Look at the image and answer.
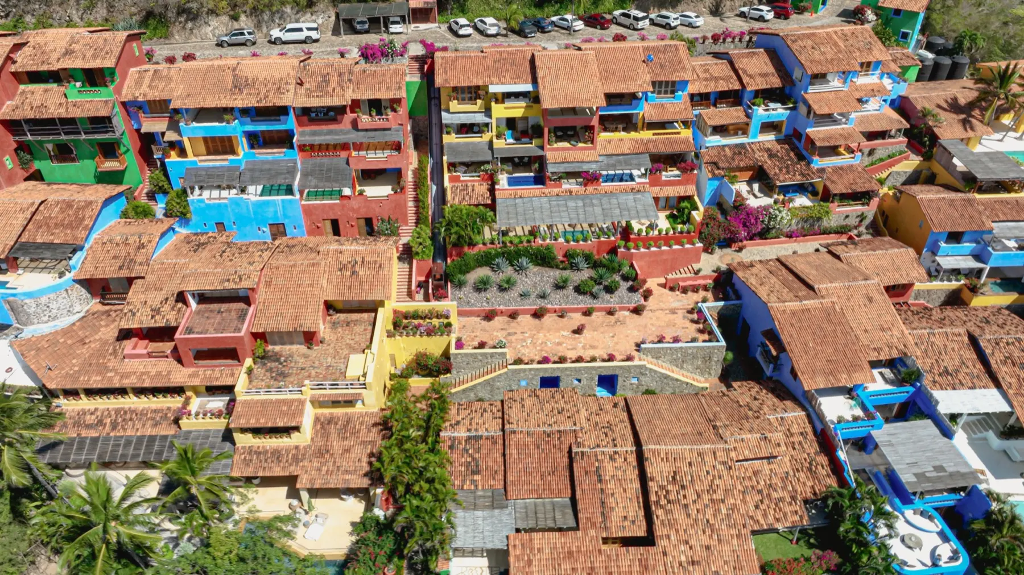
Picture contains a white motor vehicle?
Yes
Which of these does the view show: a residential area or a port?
residential area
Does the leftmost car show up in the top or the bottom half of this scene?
top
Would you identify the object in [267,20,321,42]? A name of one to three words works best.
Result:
car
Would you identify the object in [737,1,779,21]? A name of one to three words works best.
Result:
car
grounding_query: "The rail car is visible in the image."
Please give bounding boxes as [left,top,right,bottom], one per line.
[432,268,444,287]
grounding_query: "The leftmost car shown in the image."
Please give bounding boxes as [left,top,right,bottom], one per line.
[213,25,258,46]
